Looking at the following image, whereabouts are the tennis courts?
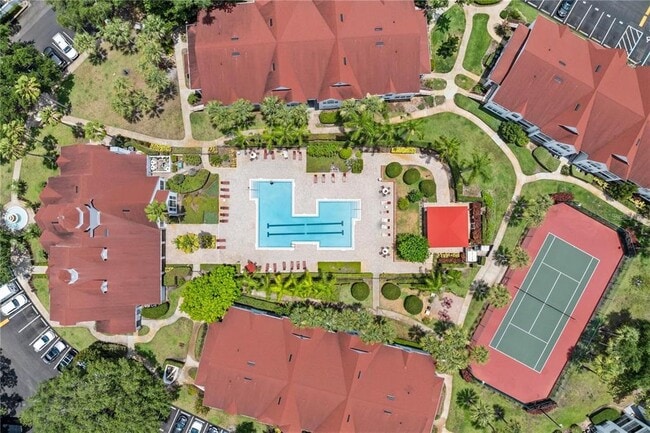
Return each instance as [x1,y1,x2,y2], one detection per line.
[467,203,624,404]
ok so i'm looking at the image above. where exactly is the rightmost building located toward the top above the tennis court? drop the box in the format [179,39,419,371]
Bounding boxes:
[477,13,650,201]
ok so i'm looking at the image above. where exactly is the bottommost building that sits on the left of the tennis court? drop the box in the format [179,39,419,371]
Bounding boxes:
[196,305,441,433]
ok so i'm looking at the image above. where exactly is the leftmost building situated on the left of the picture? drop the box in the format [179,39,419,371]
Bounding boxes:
[37,142,177,335]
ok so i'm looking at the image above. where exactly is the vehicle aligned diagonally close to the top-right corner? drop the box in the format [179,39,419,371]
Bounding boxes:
[554,0,574,22]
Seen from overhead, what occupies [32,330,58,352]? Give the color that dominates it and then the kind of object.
white car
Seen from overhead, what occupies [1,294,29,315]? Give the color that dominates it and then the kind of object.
white car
